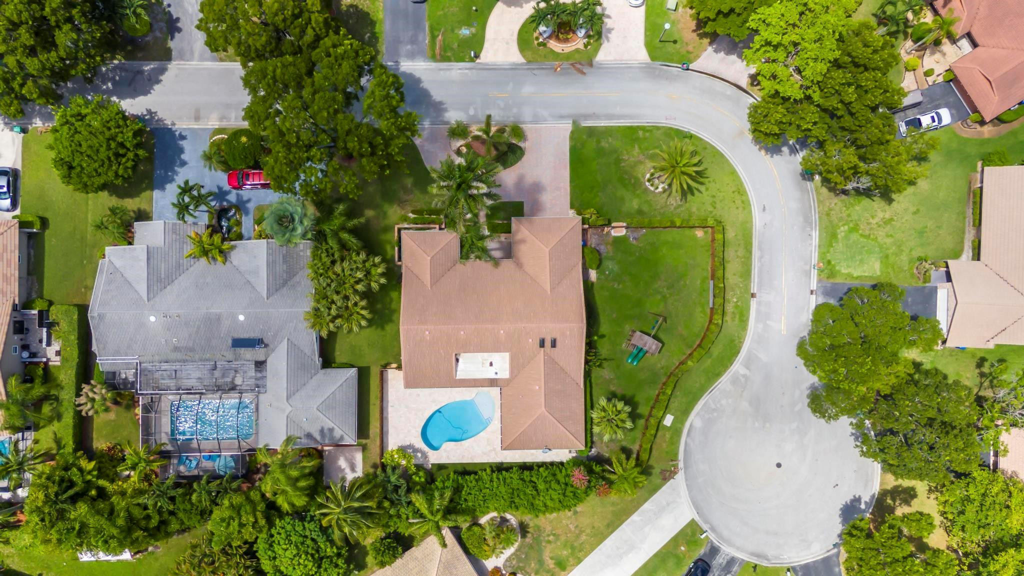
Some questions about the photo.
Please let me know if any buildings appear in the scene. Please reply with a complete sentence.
Yes, I can see a building in this picture.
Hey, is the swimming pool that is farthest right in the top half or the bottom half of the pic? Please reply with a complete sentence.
The swimming pool that is farthest right sits in the bottom half of the picture.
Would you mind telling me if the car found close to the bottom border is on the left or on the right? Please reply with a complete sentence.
You can find the car found close to the bottom border on the right side of the picture.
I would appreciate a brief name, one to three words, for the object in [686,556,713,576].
car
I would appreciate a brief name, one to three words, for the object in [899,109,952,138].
truck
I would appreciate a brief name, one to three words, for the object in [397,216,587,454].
house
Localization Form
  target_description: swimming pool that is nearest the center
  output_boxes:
[418,388,498,453]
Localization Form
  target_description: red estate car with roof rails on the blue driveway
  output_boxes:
[226,168,269,189]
